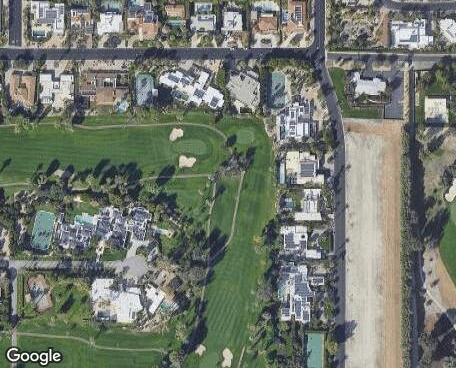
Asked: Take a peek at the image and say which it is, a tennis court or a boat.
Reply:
tennis court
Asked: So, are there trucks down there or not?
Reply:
No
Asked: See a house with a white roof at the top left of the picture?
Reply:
Yes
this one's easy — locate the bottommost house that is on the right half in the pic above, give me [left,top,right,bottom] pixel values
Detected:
[279,265,324,324]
